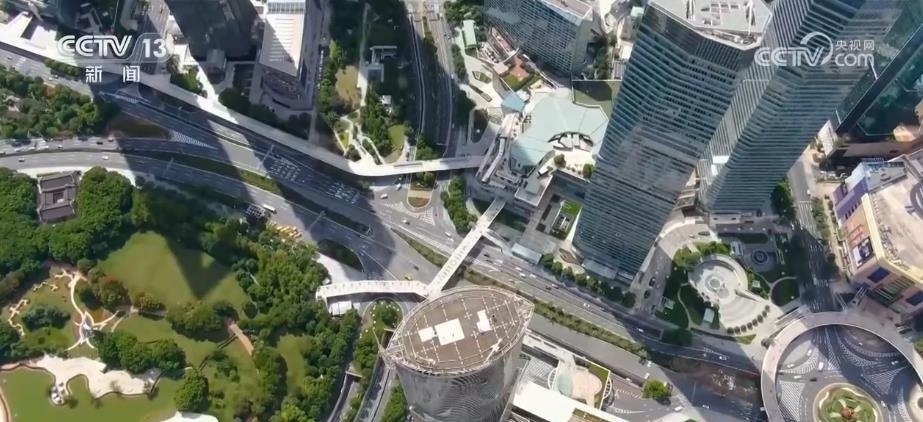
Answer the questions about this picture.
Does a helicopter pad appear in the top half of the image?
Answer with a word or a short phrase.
No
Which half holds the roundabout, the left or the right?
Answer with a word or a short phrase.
right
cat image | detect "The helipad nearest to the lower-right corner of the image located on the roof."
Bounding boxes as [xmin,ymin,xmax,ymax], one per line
[477,309,492,331]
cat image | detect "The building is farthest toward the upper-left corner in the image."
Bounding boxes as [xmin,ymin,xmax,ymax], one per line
[33,0,71,31]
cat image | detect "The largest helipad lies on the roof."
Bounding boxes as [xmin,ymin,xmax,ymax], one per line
[440,318,463,344]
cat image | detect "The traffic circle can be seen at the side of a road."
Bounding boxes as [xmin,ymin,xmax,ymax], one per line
[750,313,923,422]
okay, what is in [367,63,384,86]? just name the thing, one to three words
building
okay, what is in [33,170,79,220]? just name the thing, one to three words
house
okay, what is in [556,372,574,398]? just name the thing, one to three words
swimming pool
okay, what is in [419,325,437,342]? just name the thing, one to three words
helipad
